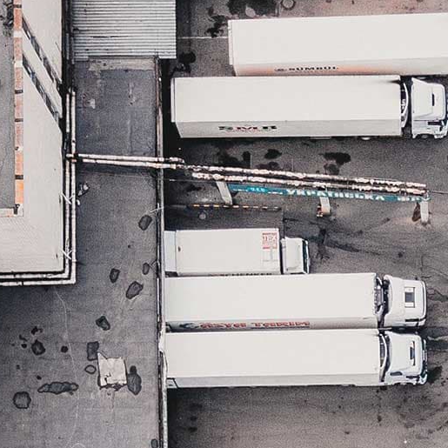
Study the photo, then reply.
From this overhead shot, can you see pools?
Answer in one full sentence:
No, the scene contains no pool.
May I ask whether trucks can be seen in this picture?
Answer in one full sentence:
Yes, I can see a truck in this picture.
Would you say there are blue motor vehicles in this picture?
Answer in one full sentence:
No, the picture doesn't show any blue motor vehicle.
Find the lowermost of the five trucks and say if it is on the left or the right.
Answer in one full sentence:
It is on the right.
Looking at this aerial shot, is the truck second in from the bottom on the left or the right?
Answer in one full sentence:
The truck second in from the bottom is on the right side of the image.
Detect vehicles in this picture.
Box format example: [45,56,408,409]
[228,13,448,82]
[164,228,310,277]
[170,76,448,145]
[166,329,430,391]
[165,273,428,334]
